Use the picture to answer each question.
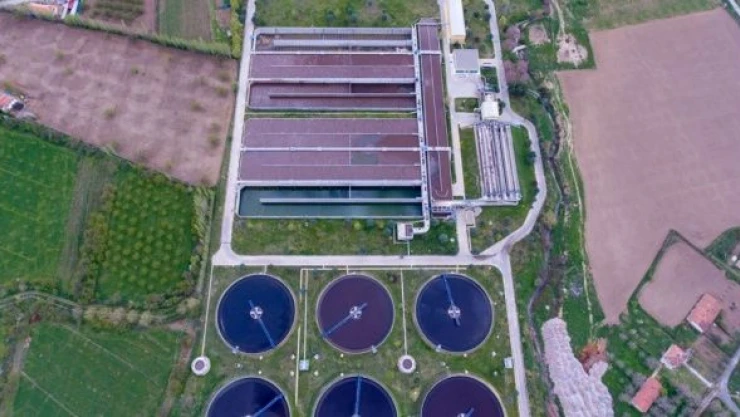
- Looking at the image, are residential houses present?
Yes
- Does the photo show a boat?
No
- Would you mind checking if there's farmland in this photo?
Yes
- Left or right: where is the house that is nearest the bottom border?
right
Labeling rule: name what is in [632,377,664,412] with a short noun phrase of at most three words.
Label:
house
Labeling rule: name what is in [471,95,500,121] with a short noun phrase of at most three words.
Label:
building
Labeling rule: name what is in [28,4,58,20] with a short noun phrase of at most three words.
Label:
house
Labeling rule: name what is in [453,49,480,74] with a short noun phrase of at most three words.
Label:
building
